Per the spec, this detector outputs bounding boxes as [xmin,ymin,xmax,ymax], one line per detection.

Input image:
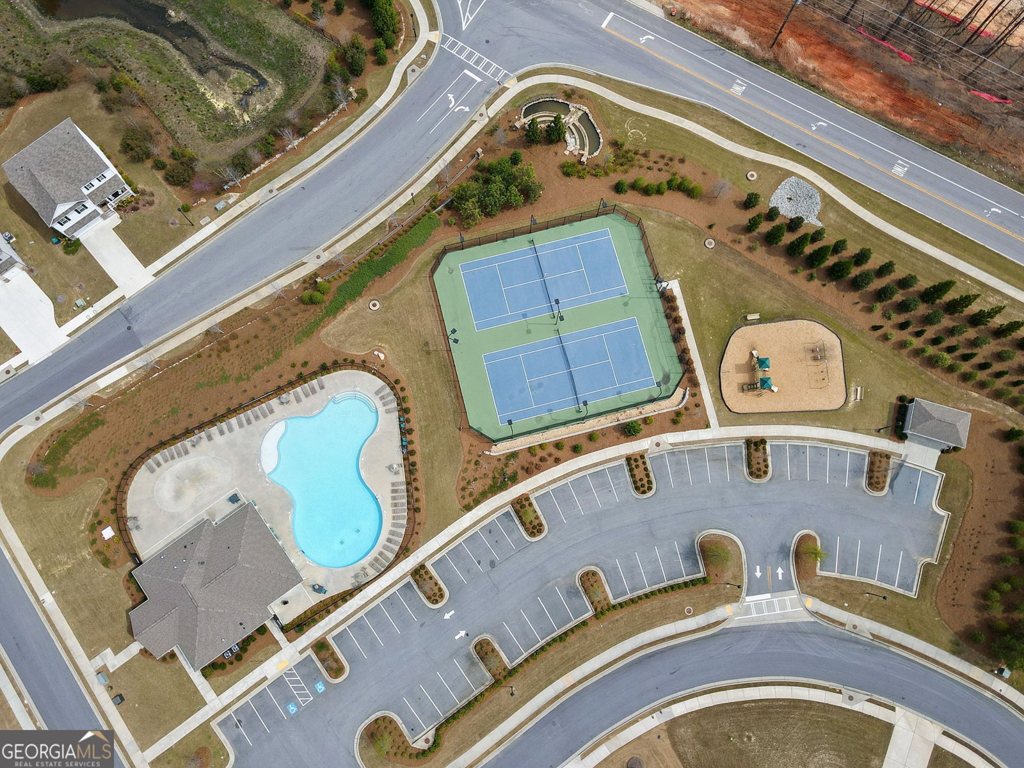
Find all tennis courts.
[482,316,656,425]
[459,227,629,331]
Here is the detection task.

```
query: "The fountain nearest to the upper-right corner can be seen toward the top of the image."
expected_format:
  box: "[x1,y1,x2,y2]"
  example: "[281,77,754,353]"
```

[520,96,604,158]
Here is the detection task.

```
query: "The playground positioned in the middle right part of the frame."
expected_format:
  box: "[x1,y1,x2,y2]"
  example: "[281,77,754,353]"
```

[719,317,850,415]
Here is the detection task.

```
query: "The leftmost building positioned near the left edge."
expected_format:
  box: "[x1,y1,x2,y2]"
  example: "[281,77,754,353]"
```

[0,232,28,285]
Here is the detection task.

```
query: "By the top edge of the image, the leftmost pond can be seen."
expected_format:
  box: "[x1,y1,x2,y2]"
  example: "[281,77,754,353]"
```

[35,0,266,83]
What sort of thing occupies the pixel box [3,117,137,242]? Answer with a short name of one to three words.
house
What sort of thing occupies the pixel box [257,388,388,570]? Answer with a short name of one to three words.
swimming pool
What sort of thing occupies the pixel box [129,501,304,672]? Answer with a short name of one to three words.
building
